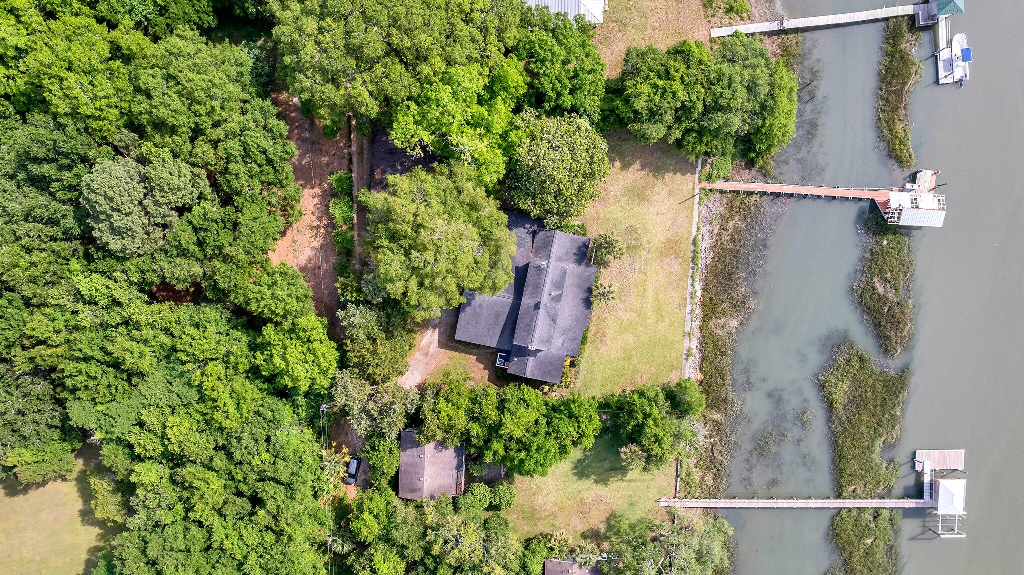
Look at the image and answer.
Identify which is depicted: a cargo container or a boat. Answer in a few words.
boat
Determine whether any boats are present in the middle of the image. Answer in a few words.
No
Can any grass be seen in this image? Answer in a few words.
Yes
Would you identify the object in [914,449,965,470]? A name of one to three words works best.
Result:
pier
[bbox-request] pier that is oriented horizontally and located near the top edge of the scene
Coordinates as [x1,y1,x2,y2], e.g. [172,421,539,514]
[711,0,937,38]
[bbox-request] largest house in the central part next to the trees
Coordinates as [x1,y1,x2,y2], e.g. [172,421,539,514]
[455,229,597,383]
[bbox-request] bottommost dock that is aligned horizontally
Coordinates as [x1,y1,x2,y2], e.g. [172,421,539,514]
[655,480,967,510]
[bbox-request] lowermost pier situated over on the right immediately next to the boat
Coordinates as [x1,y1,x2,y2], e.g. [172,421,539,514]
[936,48,954,85]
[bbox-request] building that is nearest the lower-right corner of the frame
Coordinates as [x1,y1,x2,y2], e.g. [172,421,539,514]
[937,479,975,518]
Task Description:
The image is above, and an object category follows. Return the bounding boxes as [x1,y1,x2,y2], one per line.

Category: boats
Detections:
[953,35,979,87]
